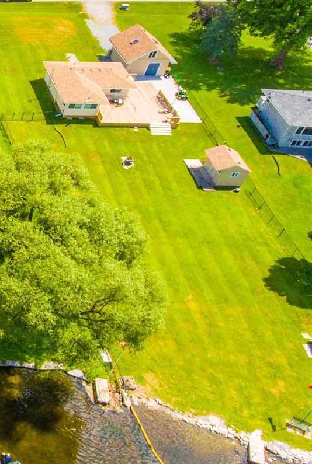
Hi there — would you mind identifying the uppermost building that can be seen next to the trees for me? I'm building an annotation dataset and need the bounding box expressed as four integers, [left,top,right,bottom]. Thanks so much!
[108,11,188,75]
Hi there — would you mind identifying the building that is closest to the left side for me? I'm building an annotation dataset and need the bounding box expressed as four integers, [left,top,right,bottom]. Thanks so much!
[40,57,145,121]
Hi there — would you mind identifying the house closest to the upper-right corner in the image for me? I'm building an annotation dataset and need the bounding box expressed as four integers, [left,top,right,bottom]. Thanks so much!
[235,83,312,158]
